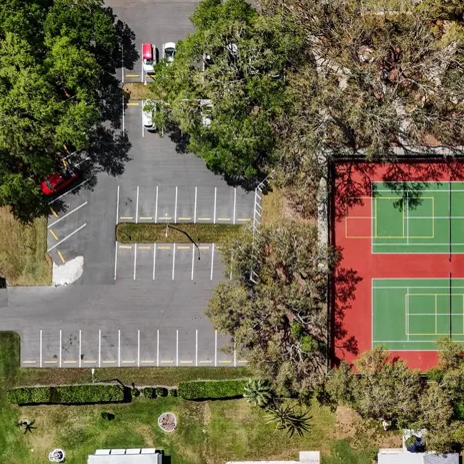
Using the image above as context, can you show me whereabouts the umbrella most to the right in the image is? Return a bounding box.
[409,435,423,450]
